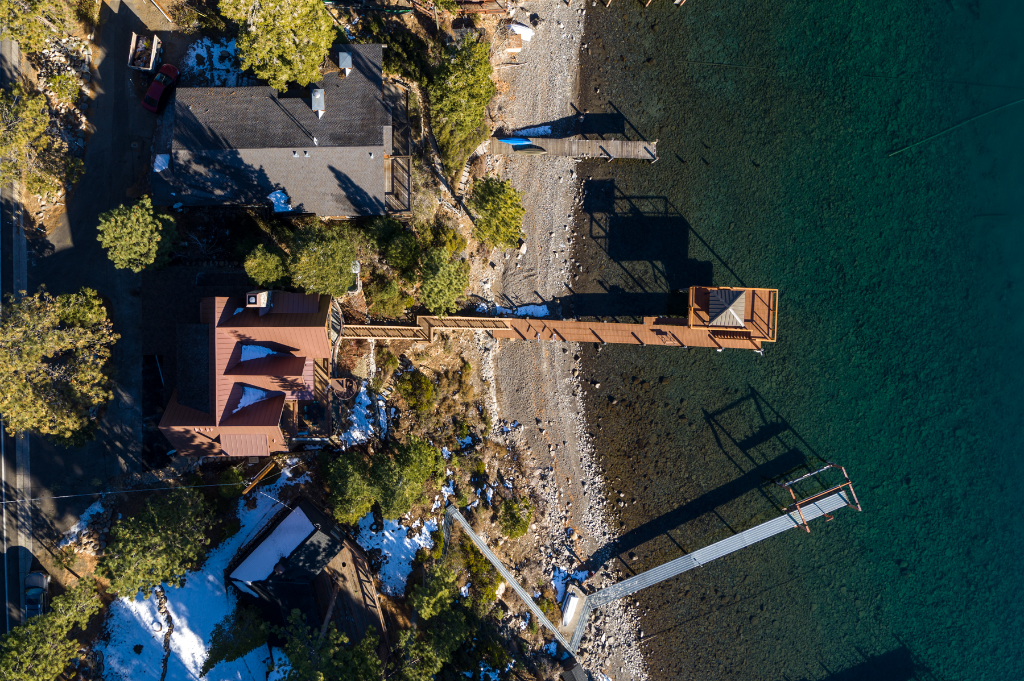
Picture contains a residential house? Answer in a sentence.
Yes, this view includes a residential house.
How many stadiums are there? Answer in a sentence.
The photo contains no stadiums.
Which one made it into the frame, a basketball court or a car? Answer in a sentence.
Looking from above, you can make out a car.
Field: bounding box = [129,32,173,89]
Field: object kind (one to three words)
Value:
trailer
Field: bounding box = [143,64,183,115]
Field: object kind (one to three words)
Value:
car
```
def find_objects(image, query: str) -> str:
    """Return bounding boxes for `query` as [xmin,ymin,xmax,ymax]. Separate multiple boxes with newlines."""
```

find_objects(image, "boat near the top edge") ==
[509,21,534,43]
